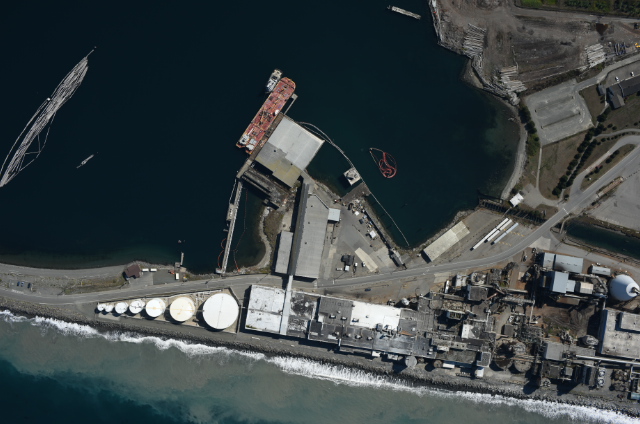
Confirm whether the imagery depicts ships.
Yes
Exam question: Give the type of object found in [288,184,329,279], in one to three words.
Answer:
building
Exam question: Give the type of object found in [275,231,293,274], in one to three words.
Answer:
shed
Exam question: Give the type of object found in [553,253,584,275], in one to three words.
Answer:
building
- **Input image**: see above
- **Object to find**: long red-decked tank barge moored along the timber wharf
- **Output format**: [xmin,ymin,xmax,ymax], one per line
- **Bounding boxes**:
[236,76,294,154]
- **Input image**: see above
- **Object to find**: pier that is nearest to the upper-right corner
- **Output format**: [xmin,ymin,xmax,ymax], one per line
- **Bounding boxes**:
[341,183,371,206]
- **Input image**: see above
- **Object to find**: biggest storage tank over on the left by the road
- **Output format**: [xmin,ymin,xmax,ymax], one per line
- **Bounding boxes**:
[202,291,240,330]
